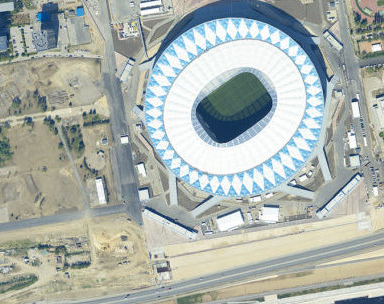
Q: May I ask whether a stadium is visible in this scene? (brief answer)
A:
Yes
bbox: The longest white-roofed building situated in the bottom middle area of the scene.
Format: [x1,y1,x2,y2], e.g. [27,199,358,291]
[143,207,197,239]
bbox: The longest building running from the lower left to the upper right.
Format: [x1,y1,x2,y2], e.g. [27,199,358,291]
[317,173,362,218]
